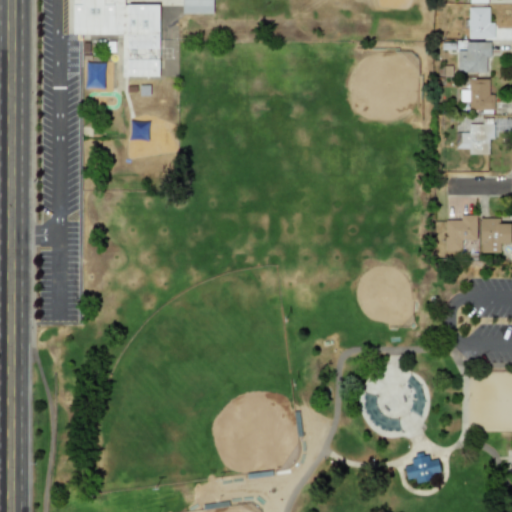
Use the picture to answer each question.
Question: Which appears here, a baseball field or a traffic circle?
baseball field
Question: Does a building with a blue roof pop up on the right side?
Yes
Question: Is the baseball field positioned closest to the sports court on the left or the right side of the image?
right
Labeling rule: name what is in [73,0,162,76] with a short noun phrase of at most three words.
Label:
building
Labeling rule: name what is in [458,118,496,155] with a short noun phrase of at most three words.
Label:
house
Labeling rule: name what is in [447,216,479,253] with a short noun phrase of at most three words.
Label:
house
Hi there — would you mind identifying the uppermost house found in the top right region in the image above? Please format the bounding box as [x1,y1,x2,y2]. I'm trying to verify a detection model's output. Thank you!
[470,6,497,39]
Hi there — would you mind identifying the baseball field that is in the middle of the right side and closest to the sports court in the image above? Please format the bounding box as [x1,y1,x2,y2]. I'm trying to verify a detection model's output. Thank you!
[356,266,416,328]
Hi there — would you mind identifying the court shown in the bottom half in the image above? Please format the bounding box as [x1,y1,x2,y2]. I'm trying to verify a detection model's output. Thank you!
[469,372,512,432]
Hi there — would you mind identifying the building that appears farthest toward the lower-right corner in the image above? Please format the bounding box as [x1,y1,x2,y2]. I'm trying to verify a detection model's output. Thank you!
[406,452,444,486]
